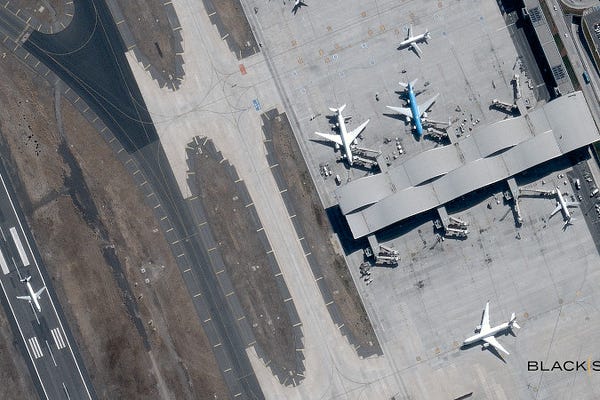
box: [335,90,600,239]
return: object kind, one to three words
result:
building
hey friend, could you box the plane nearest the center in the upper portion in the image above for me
[315,105,370,166]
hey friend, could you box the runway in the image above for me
[0,152,100,400]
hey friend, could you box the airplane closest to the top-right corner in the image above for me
[400,24,432,54]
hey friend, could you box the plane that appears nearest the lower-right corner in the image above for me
[463,302,521,353]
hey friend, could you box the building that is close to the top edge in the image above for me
[523,0,572,89]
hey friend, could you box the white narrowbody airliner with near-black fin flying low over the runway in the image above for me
[16,275,46,313]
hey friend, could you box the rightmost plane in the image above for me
[551,187,582,225]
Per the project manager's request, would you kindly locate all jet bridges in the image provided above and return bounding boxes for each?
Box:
[515,197,522,224]
[519,189,555,194]
[449,217,469,227]
[428,127,449,136]
[424,118,452,124]
[354,155,377,165]
[515,75,521,99]
[446,228,469,234]
[354,146,382,154]
[379,245,399,255]
[492,100,517,108]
